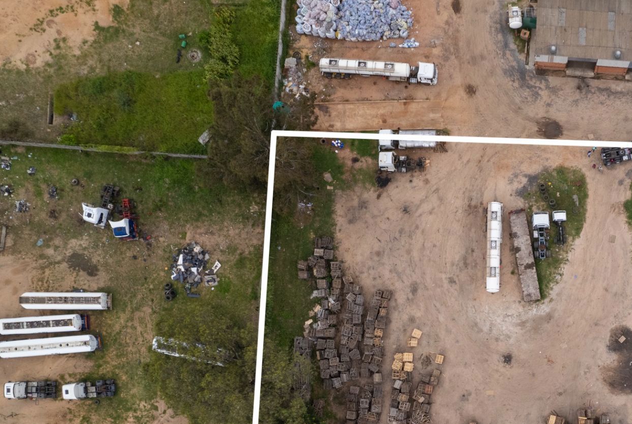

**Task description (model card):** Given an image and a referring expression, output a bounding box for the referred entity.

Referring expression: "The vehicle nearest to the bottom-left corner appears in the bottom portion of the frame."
[1,380,58,401]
